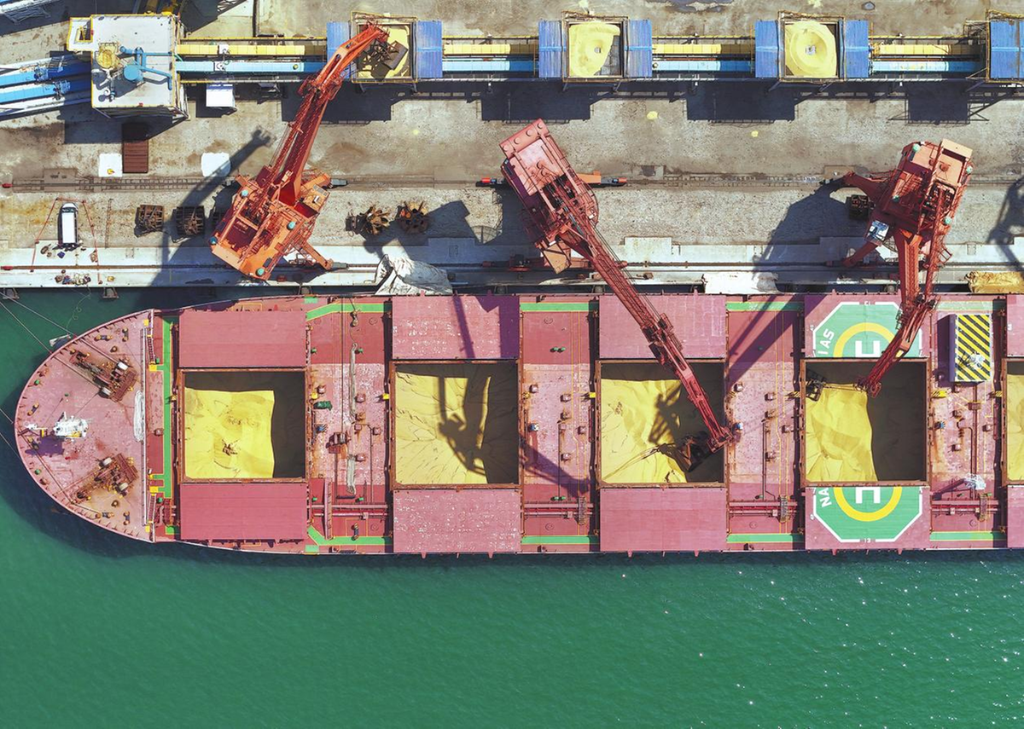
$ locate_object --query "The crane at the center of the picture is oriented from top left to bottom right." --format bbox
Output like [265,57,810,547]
[477,123,740,452]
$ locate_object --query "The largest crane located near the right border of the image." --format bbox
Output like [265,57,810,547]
[829,139,977,394]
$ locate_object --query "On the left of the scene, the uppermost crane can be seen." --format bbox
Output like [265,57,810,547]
[210,20,383,284]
